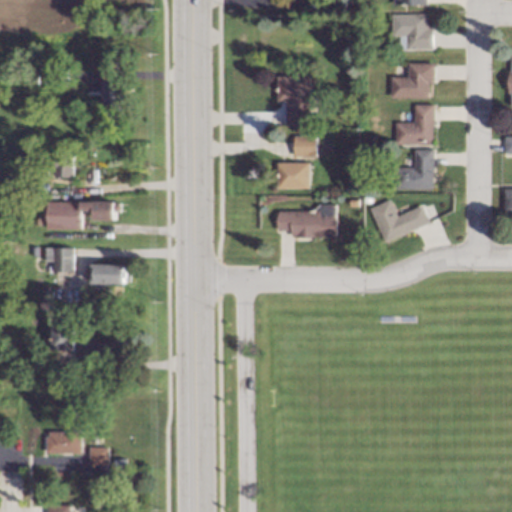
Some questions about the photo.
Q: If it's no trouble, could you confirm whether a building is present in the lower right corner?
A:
No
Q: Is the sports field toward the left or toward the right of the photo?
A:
right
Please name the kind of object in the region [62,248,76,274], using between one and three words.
building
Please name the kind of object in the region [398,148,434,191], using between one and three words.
house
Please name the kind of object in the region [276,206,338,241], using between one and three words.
house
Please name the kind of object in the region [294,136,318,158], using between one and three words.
building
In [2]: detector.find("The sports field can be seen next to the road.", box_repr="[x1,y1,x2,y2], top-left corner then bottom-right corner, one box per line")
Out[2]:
[257,272,512,512]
